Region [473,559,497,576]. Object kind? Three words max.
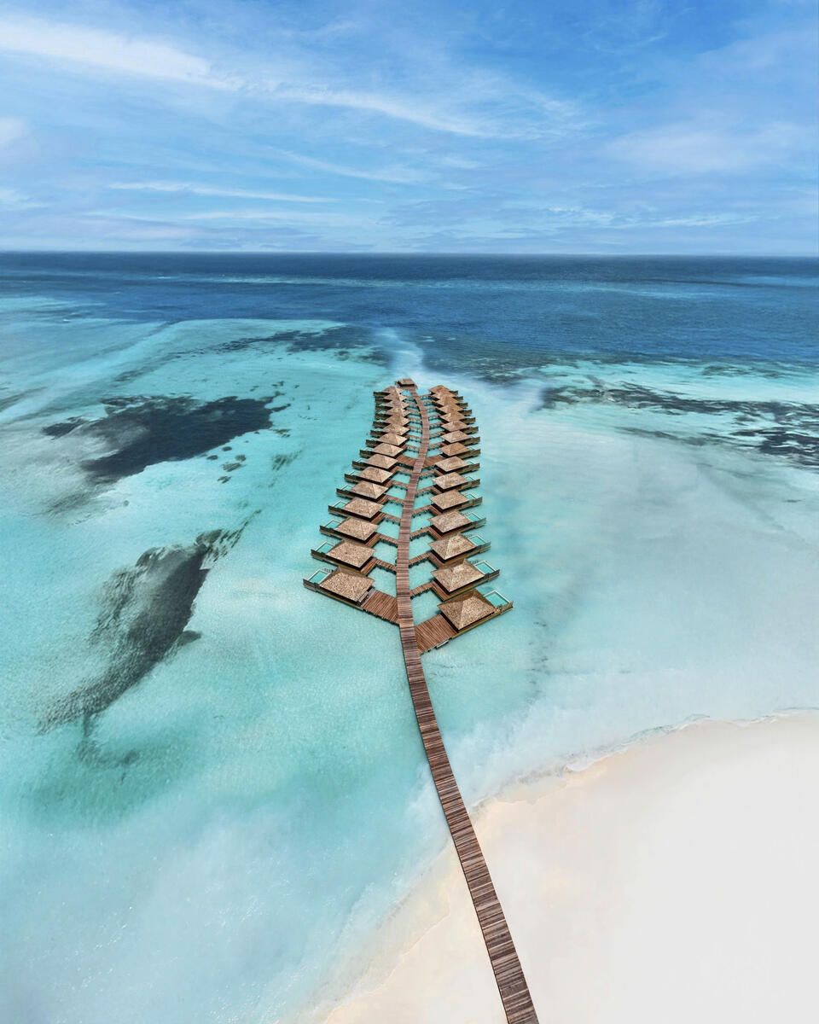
swimming pool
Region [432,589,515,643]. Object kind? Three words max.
house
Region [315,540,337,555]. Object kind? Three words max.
swimming pool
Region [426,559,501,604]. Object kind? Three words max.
house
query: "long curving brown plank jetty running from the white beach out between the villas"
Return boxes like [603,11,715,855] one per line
[397,389,539,1024]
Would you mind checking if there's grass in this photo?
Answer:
No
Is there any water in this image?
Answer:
Yes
